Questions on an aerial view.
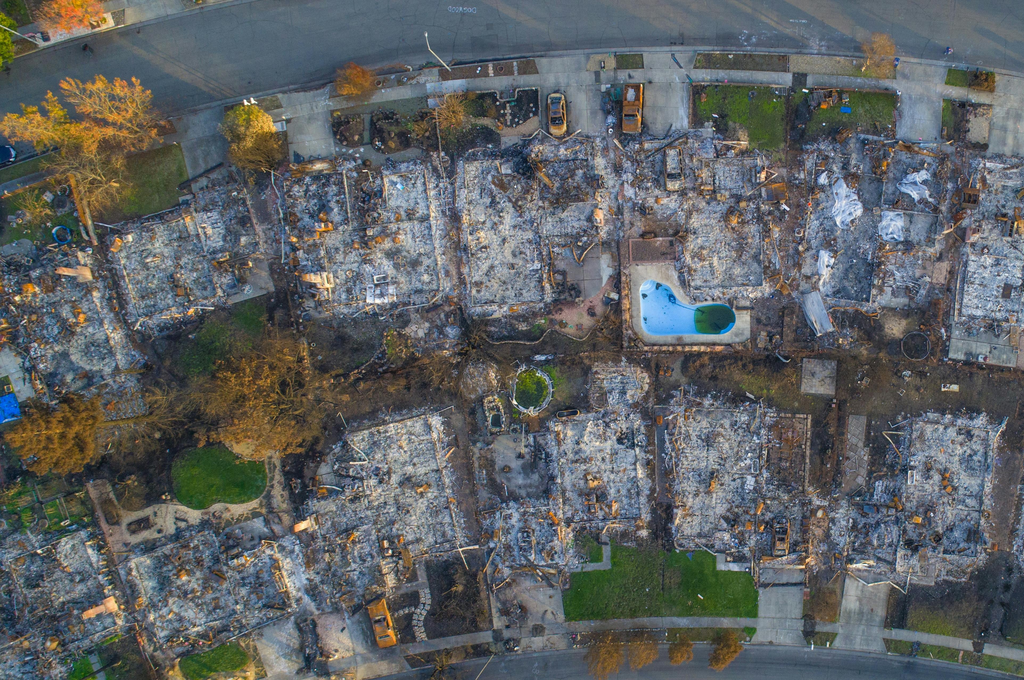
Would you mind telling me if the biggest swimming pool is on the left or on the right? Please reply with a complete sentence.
The biggest swimming pool appears in the right half of the scene.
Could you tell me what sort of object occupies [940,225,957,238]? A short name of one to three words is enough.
chimney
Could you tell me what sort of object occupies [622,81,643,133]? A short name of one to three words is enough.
truck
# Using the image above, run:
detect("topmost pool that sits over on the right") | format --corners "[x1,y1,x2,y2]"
[638,278,737,337]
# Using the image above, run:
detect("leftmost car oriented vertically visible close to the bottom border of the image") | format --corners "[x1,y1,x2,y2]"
[365,599,394,652]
